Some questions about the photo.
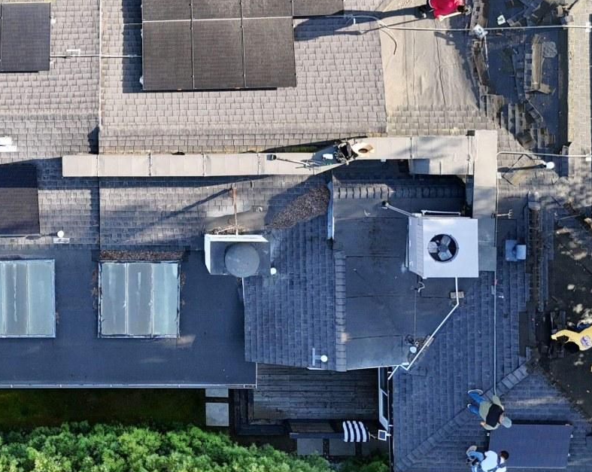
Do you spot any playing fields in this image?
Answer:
No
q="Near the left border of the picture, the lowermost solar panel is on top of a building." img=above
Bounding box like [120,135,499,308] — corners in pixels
[0,163,40,234]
